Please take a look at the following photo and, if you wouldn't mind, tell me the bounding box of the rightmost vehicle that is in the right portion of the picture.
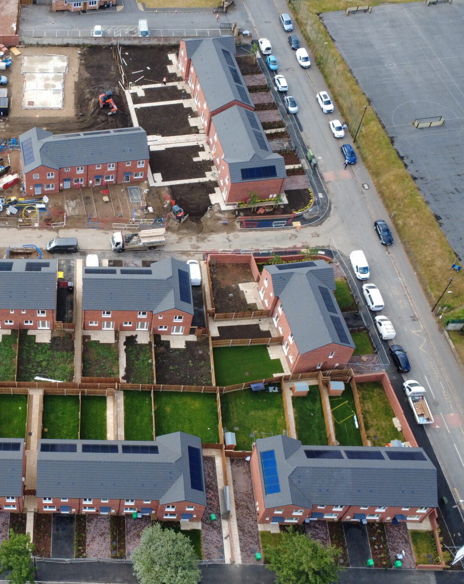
[402,383,436,420]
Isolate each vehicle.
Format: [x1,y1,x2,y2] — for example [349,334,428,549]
[279,12,293,30]
[92,23,103,37]
[266,55,278,71]
[112,227,166,251]
[186,261,202,287]
[288,34,300,49]
[317,91,333,112]
[282,95,298,114]
[295,45,311,66]
[138,17,148,36]
[375,315,398,341]
[0,74,8,85]
[402,383,436,420]
[340,144,357,165]
[47,235,80,253]
[388,344,412,373]
[273,76,290,92]
[363,284,384,311]
[257,39,273,55]
[350,248,371,278]
[85,253,100,269]
[329,118,345,138]
[375,220,392,245]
